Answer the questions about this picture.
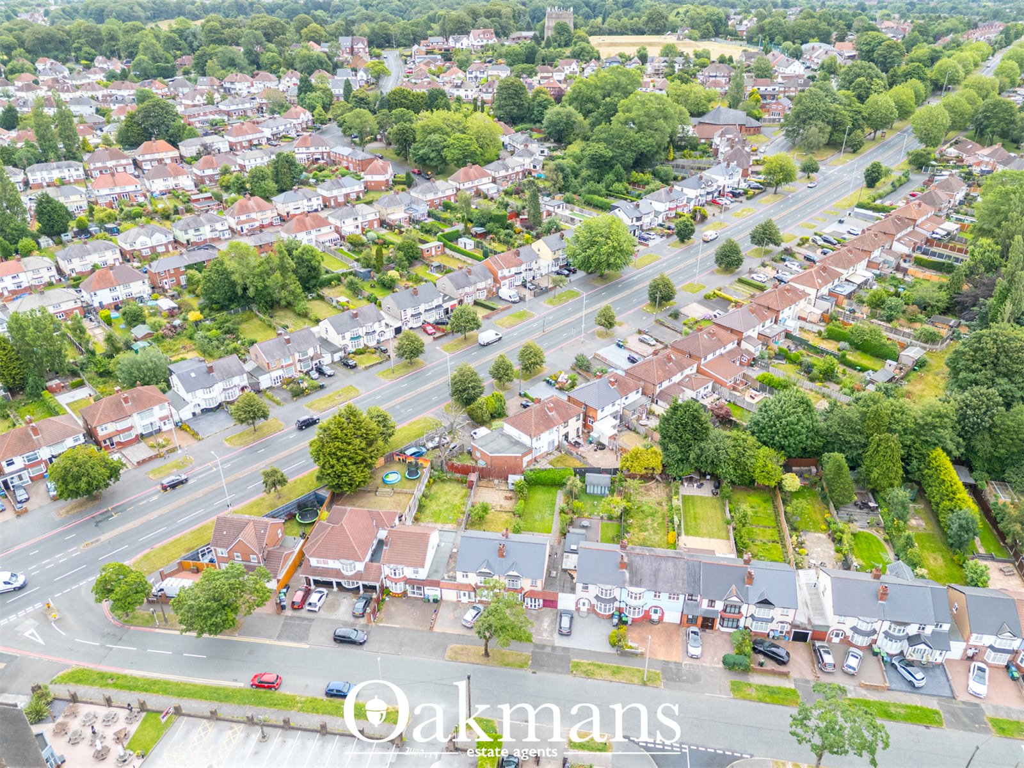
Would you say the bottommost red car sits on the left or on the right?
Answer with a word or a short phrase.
left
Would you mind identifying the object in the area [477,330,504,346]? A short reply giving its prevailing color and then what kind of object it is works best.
white vehicle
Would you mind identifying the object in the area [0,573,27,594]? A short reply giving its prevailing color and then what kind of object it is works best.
white vehicle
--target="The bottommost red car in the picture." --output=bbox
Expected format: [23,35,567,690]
[246,673,283,694]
